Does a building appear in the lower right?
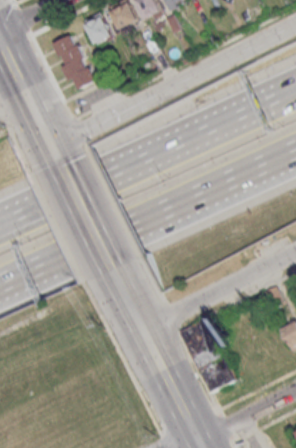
Yes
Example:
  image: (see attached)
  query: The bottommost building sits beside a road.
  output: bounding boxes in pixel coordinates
[200,360,238,390]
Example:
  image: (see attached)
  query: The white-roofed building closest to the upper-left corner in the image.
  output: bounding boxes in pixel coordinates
[86,18,112,44]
